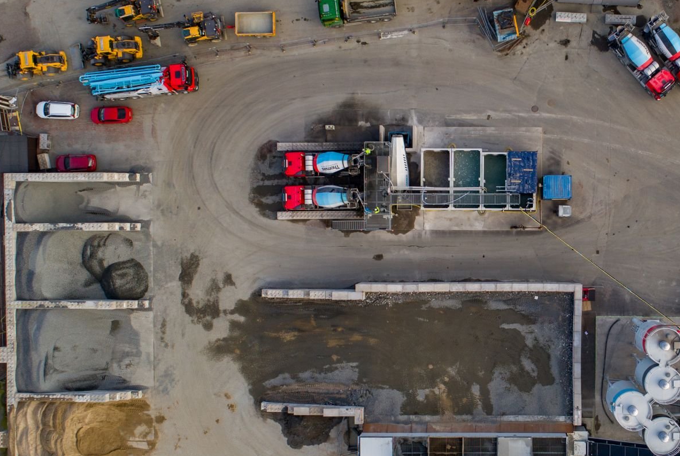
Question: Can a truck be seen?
Yes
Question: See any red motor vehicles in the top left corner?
Yes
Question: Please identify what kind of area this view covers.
industrial area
